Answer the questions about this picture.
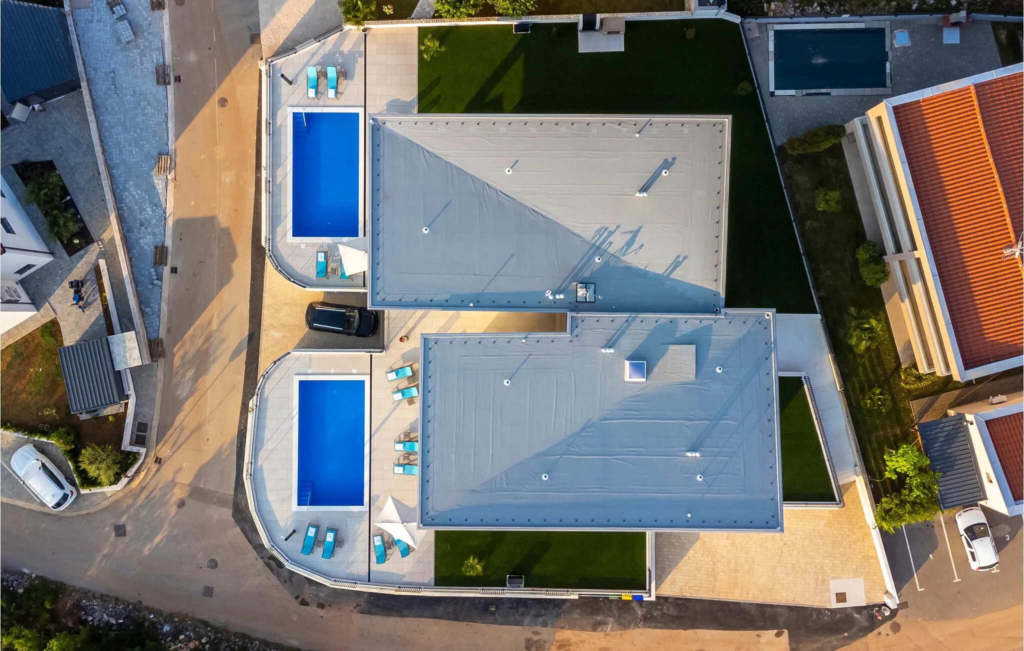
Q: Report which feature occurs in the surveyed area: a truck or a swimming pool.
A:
swimming pool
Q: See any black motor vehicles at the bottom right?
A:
No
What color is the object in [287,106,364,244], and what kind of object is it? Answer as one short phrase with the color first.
blue swimming pool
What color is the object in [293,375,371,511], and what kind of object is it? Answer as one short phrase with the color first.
blue swimming pool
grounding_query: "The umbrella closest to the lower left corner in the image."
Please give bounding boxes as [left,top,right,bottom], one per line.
[373,495,419,551]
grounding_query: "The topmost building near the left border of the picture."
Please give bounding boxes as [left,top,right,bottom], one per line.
[0,0,83,103]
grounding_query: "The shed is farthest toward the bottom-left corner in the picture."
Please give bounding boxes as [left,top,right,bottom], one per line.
[56,337,138,414]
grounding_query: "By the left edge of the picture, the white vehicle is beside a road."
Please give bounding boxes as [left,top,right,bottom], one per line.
[8,442,74,515]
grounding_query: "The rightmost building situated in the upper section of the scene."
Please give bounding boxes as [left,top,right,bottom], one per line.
[822,61,1024,381]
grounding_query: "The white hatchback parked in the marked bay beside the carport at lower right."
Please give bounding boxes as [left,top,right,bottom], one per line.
[957,509,1004,575]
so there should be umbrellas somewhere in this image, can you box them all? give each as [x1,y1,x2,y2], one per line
[373,495,419,551]
[338,239,368,276]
